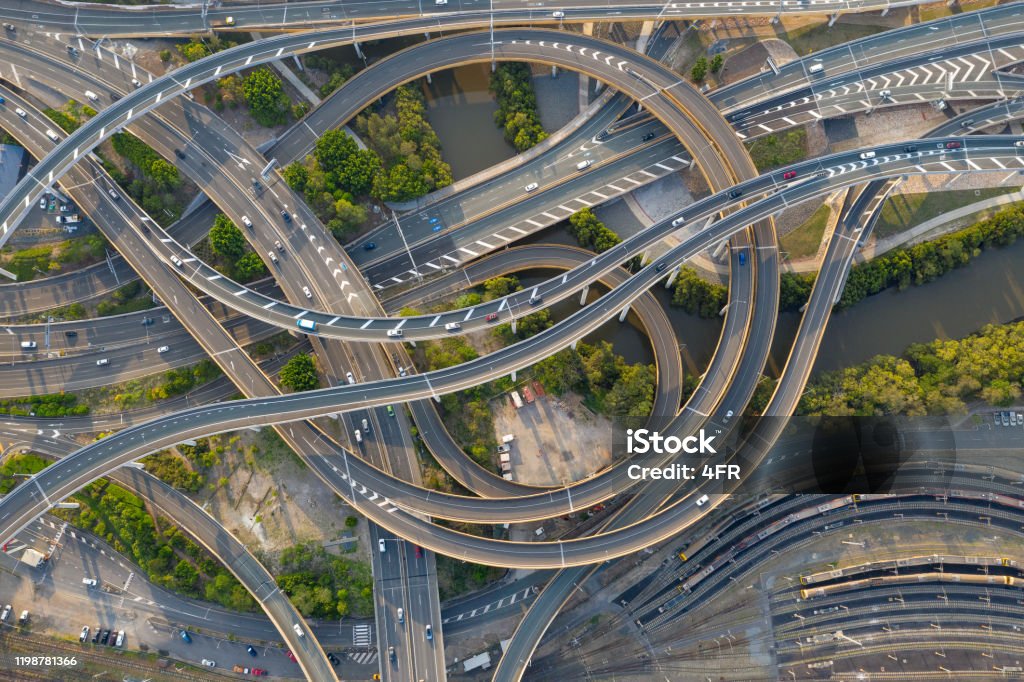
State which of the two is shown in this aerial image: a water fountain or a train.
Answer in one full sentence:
There is a train in the scene.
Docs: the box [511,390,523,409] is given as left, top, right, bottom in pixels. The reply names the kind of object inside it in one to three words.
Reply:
vehicle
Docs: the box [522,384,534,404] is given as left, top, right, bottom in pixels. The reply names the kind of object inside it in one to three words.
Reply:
vehicle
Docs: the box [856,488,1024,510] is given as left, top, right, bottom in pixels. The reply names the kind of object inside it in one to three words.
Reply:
train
